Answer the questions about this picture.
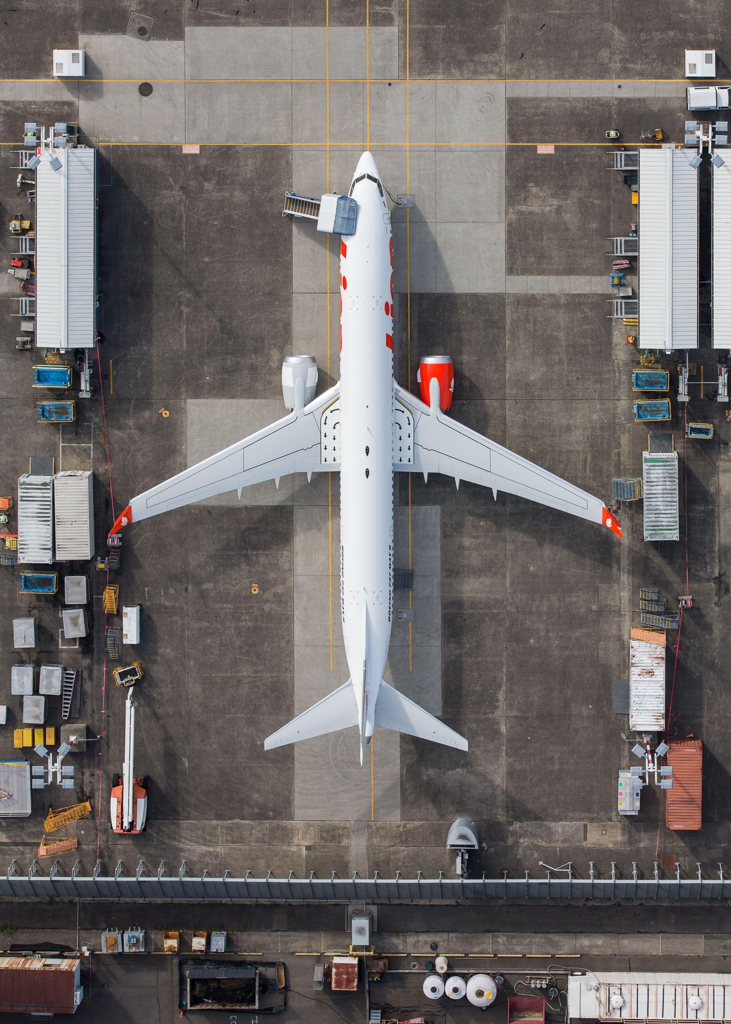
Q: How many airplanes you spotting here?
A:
1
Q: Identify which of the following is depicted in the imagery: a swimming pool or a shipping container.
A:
shipping container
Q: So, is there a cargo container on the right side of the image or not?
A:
Yes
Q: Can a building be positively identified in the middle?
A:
No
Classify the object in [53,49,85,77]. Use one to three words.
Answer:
building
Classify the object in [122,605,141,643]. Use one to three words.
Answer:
trailer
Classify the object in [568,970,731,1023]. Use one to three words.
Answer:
building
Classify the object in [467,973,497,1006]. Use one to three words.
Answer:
water tank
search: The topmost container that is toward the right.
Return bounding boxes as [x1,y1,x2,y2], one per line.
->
[642,452,678,540]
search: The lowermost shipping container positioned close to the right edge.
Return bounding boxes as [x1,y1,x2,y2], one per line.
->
[667,740,702,830]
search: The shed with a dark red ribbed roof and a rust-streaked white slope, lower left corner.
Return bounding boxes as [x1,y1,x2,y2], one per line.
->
[0,950,81,1020]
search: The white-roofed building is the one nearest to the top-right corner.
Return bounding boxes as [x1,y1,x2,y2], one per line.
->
[685,49,715,78]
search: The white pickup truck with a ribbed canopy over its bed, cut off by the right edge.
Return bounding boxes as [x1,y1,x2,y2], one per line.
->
[685,87,731,110]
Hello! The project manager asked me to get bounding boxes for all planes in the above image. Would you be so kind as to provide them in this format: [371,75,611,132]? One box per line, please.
[107,151,623,764]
